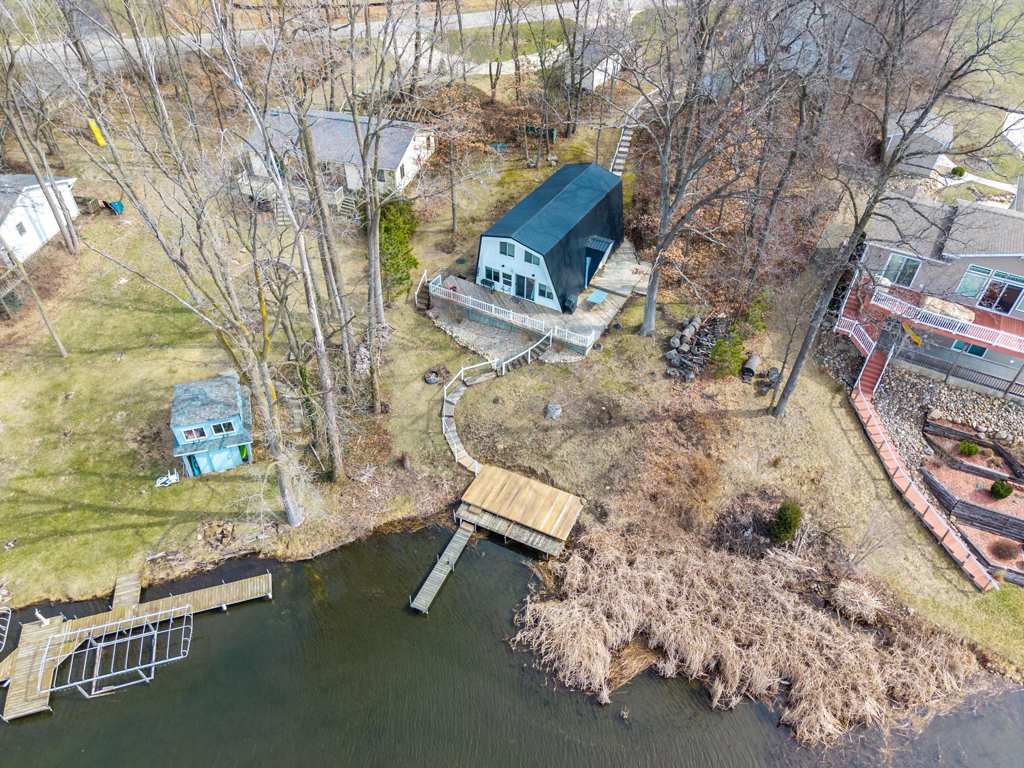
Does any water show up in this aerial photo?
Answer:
Yes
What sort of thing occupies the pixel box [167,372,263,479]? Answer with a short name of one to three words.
shed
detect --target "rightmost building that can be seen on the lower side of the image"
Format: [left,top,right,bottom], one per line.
[461,465,584,558]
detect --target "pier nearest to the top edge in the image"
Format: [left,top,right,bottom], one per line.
[454,500,572,560]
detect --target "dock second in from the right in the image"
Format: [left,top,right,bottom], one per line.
[409,524,477,621]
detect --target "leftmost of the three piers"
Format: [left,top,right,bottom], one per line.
[0,570,273,725]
